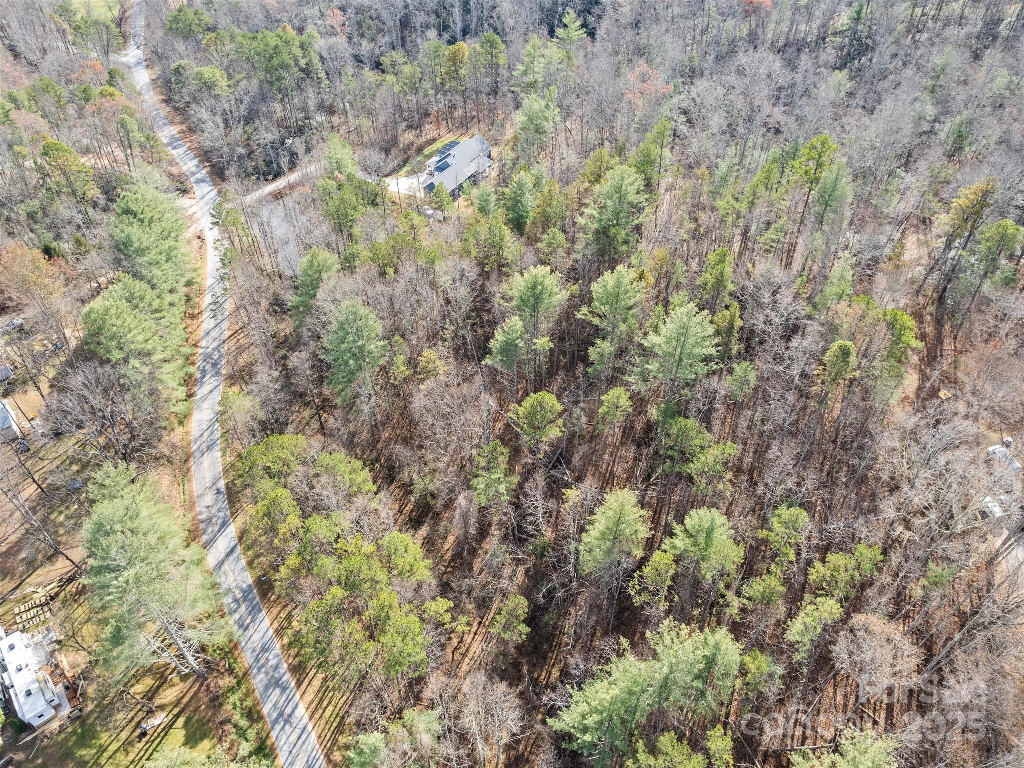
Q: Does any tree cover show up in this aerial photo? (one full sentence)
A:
Yes, there is tree cover in the image.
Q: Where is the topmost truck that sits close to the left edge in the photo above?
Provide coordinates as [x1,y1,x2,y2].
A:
[0,314,26,335]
